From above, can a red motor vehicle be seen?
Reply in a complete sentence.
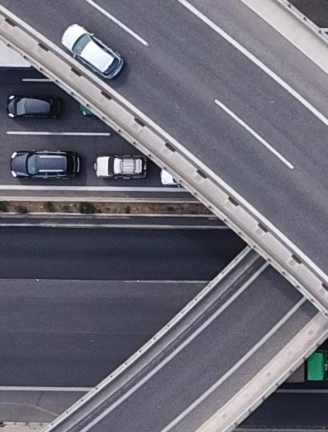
No, I can't see a single red motor vehicle in this photo.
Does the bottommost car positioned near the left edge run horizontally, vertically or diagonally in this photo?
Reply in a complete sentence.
The bottommost car positioned near the left edge runs horizontally in the image.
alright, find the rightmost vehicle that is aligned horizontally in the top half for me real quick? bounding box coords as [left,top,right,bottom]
[94,153,149,180]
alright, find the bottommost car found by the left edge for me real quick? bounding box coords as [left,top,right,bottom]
[11,148,81,180]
